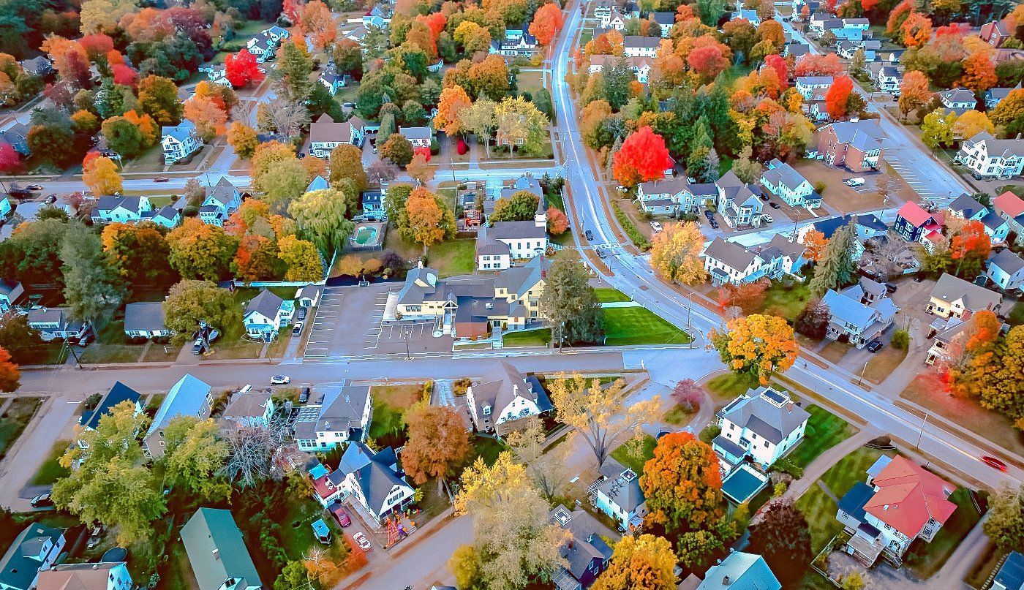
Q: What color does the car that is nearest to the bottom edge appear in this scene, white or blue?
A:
white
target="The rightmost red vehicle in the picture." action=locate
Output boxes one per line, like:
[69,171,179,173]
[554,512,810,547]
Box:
[980,455,1008,473]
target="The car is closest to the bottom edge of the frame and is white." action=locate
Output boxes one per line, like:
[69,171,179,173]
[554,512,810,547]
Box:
[352,531,373,552]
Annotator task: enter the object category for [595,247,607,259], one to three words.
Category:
vehicle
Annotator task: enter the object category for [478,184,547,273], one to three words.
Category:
building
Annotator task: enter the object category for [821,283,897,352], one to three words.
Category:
house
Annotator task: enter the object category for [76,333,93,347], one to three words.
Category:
car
